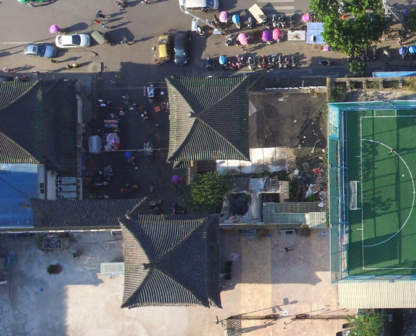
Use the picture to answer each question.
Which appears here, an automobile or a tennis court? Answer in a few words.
automobile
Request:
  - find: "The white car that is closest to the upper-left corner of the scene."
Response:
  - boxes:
[55,32,93,49]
